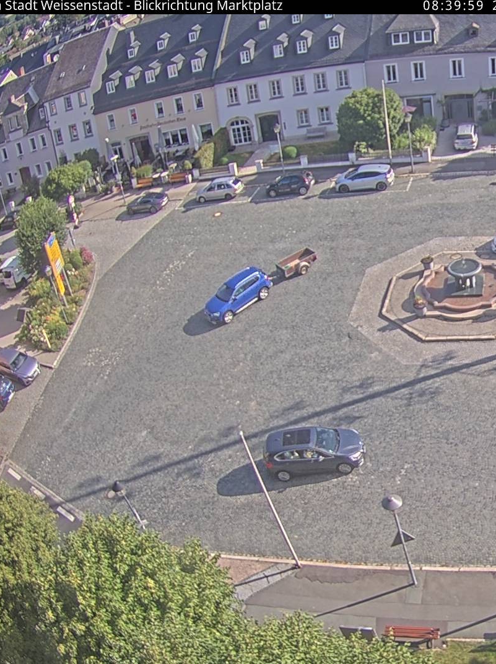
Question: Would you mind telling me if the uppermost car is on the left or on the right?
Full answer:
The uppermost car is on the right side of the image.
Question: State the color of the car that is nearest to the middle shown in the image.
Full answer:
The car that is nearest to the middle looks blue in the image.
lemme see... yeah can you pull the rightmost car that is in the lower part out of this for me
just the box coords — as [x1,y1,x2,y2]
[258,424,367,483]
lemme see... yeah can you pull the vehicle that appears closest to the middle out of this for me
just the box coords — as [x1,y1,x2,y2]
[200,266,273,326]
